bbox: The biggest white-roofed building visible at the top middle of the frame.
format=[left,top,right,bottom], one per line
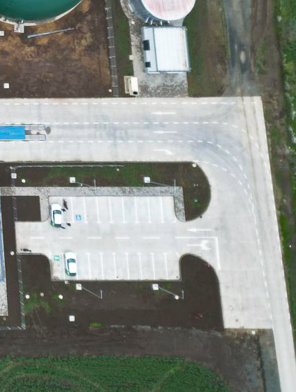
[144,26,190,72]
